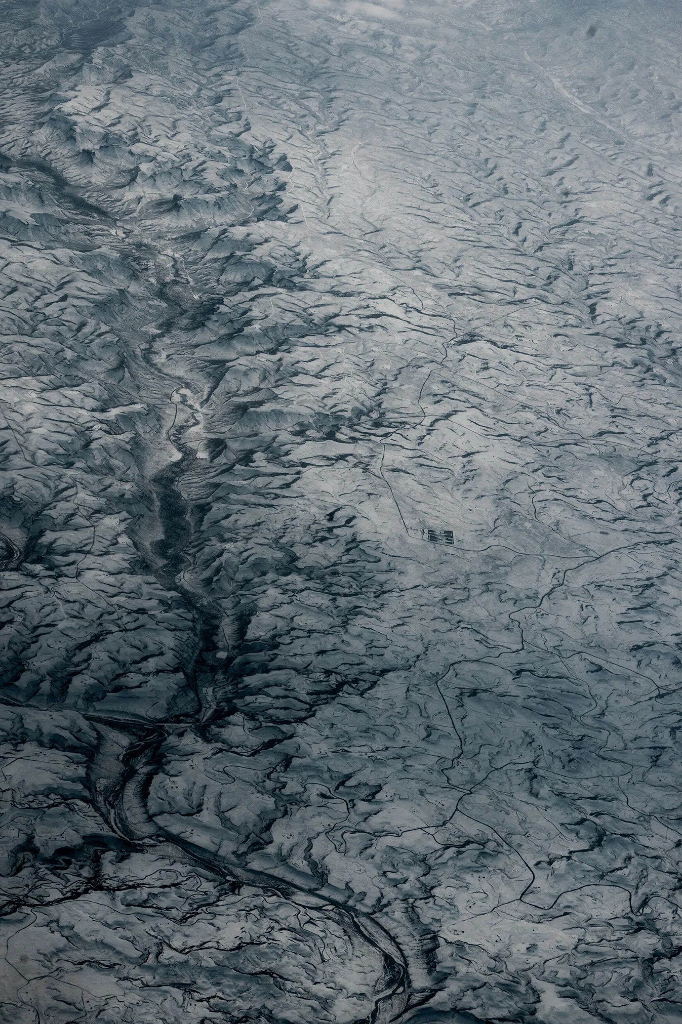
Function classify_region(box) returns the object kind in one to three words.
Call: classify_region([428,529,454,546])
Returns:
solar array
